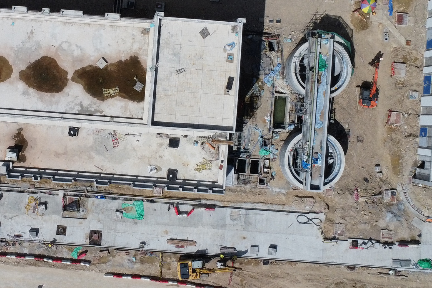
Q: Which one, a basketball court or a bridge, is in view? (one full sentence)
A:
Looking from above, you can make out a bridge.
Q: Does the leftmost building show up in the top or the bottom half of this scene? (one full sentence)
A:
Seen from above, the leftmost building lies in the top half of the view.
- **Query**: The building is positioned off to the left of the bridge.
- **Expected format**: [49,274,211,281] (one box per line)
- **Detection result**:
[0,3,247,195]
